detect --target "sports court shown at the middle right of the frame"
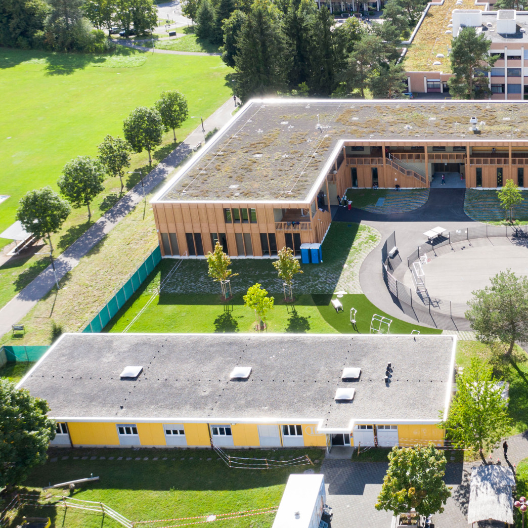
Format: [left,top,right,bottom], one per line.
[403,237,528,318]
